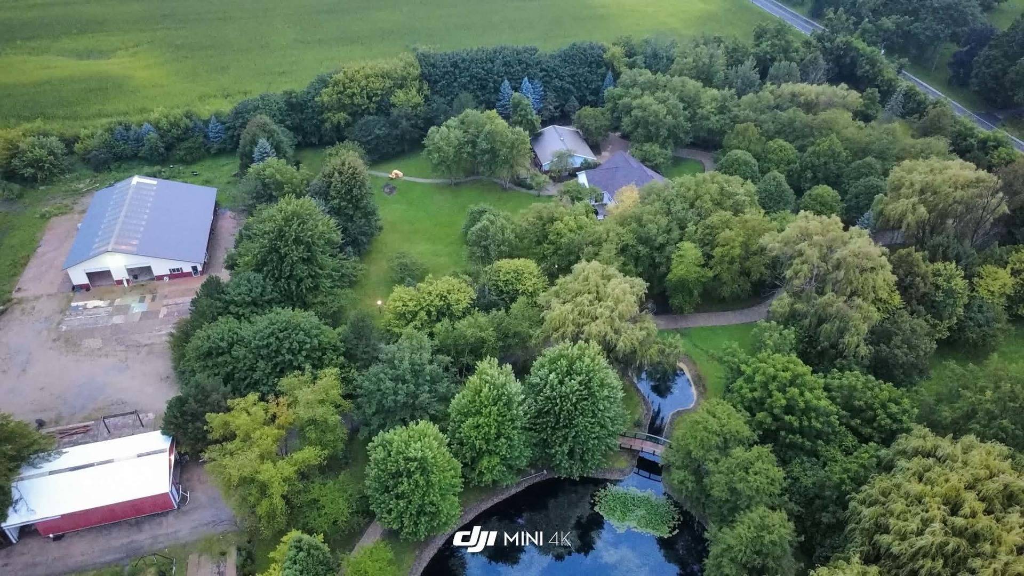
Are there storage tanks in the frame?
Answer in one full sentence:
No, I can see no storage tank in this picture.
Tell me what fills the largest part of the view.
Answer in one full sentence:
The largest share of the image is taken up by trees.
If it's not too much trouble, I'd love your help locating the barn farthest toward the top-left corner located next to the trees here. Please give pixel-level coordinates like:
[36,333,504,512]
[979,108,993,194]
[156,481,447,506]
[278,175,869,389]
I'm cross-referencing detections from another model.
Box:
[61,176,217,288]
